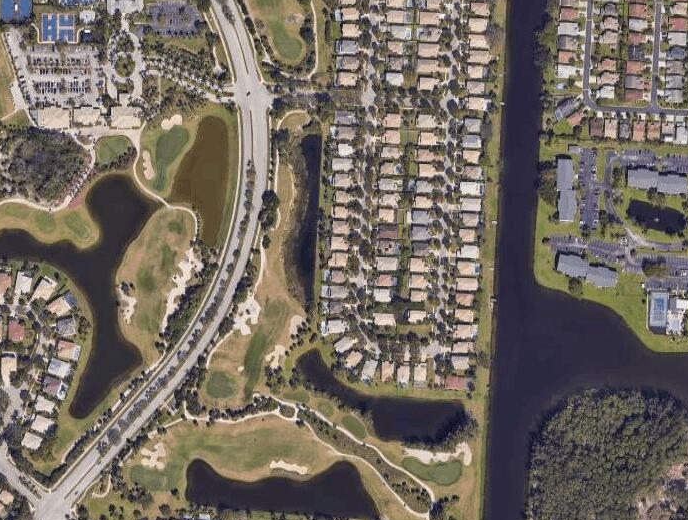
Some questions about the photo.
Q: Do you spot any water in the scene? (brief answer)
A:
Yes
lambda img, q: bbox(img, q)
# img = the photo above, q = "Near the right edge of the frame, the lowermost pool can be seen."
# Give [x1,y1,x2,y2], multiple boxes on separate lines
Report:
[668,309,683,336]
